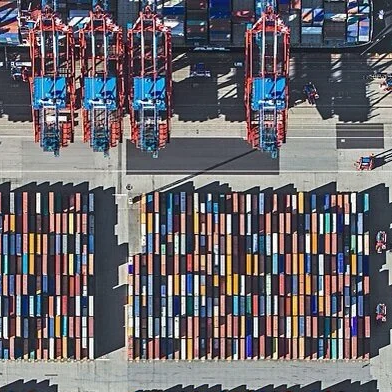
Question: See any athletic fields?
No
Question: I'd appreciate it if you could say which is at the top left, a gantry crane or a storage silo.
gantry crane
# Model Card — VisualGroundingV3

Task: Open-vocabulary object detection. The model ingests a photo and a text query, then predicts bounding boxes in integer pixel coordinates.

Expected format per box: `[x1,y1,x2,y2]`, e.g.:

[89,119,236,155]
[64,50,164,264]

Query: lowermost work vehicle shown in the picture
[375,303,389,324]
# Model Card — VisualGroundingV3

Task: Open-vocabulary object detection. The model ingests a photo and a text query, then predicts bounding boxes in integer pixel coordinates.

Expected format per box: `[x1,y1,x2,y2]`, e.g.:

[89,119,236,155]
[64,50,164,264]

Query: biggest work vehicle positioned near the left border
[13,64,27,89]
